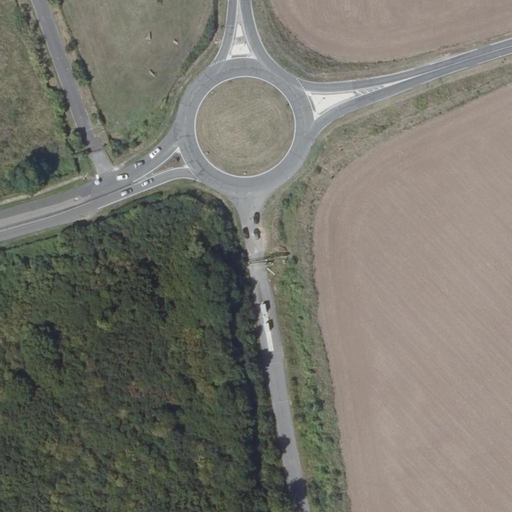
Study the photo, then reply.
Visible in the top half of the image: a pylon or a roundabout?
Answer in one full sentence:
Looking in the top half of the image, you will find a roundabout.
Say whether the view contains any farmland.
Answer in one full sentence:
Yes, the picture does contain farmland.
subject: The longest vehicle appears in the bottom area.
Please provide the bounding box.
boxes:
[260,302,274,352]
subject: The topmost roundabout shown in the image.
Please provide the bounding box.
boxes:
[141,19,356,196]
